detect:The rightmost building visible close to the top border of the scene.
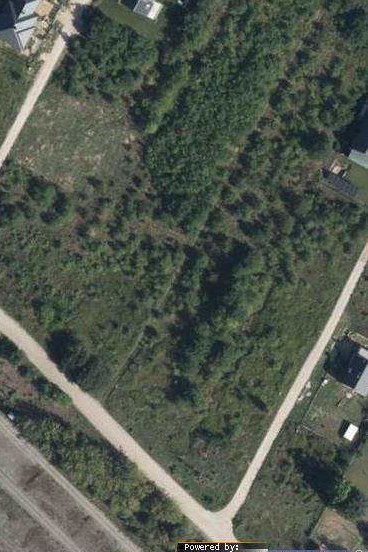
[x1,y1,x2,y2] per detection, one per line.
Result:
[134,0,166,20]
